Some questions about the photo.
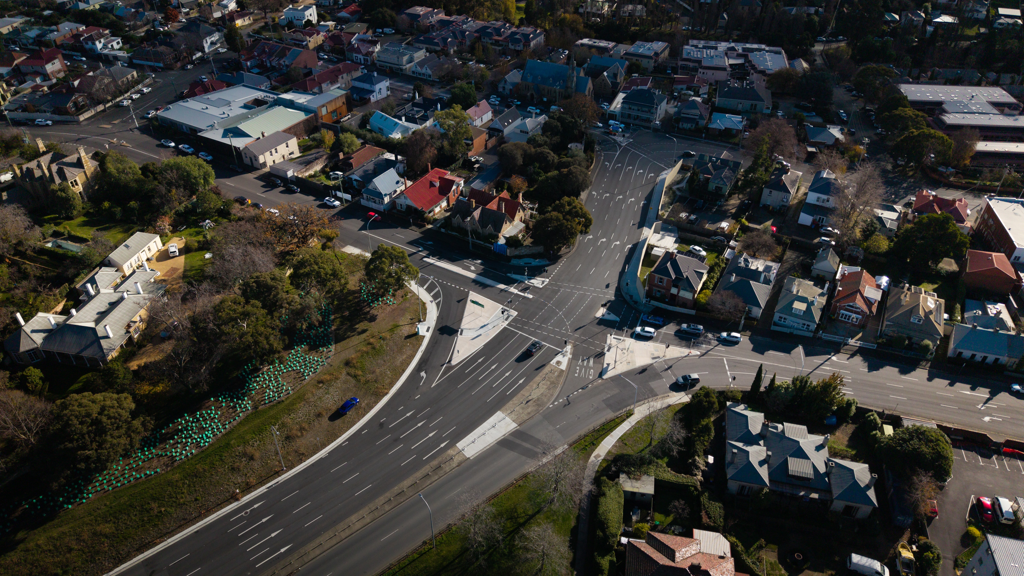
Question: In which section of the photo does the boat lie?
bottom right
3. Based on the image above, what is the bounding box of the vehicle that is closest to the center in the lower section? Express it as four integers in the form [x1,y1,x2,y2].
[525,342,545,356]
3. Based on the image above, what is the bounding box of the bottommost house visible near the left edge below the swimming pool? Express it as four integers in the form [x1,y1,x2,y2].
[6,261,175,371]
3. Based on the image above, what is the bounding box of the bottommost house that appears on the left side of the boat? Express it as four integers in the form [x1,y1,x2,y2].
[624,530,735,576]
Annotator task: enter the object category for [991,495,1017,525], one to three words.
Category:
vehicle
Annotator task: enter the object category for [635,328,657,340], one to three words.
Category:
vehicle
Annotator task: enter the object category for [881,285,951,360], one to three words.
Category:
house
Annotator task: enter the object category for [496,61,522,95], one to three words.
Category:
building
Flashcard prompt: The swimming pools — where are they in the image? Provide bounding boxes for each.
[43,236,84,252]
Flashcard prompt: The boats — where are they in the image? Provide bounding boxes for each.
[896,540,917,576]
